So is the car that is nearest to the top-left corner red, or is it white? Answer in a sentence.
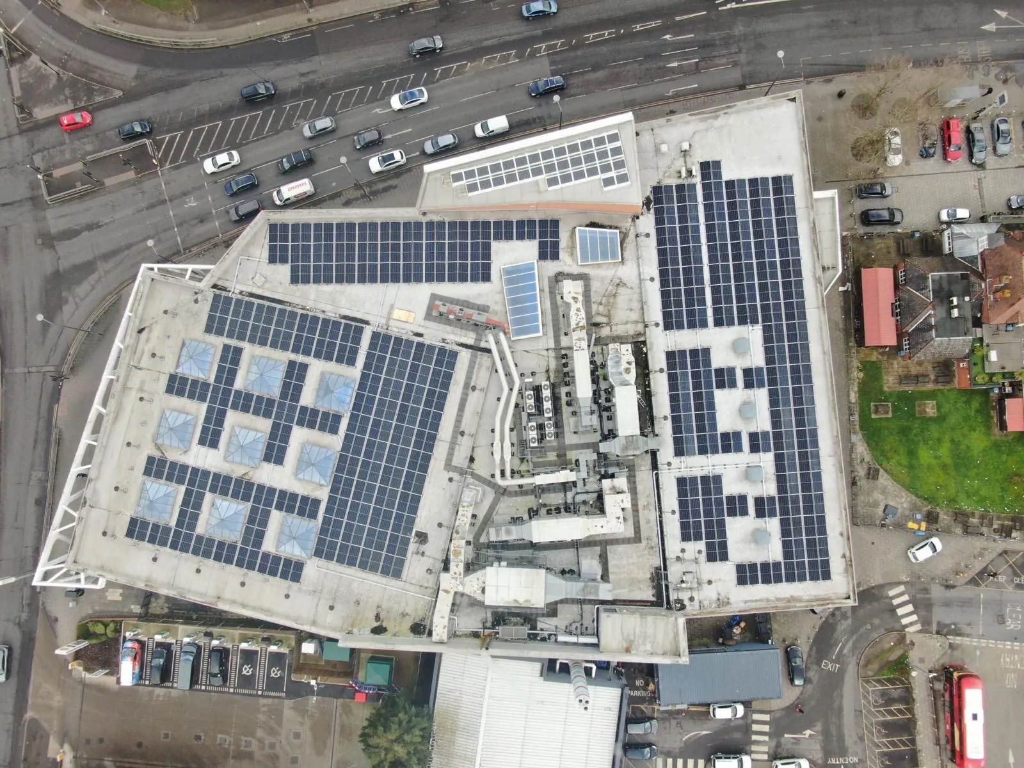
The color of the car that is nearest to the top-left corner is red.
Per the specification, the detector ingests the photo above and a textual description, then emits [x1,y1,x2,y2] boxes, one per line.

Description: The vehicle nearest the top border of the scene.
[520,0,560,21]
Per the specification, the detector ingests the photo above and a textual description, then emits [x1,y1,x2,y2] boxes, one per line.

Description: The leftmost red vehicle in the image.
[58,110,96,132]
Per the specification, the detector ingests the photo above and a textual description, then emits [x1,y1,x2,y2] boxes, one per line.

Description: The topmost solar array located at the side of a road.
[451,132,632,195]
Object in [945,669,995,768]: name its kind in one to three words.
bus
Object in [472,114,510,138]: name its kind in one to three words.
vehicle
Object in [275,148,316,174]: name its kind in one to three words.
car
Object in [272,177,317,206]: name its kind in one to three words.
van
